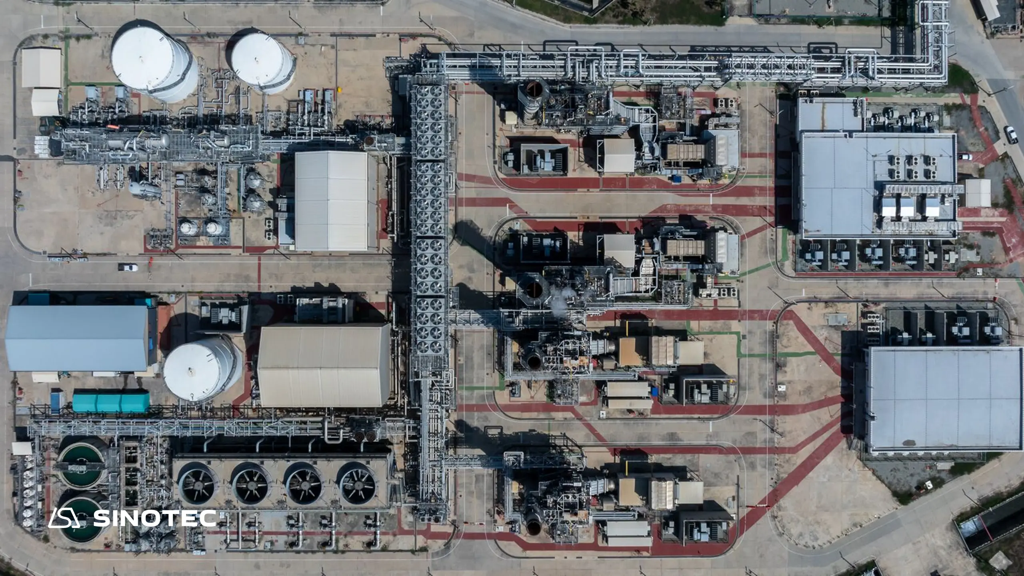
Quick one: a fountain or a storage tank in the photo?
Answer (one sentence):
The image shows a storage tank.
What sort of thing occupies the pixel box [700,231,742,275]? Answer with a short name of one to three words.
house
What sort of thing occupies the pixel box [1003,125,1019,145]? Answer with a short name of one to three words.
vehicle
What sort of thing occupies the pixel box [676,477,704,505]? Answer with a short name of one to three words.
building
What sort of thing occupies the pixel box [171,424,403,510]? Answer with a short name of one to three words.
cooling tower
